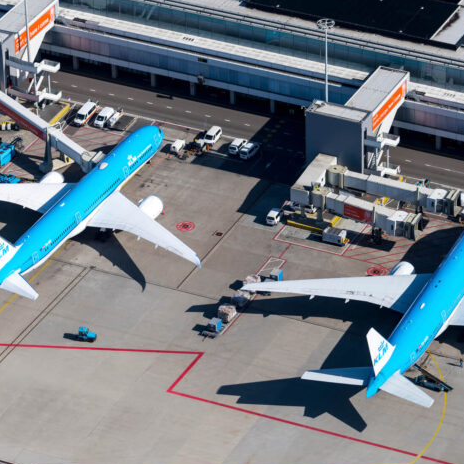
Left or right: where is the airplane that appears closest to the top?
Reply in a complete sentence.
You can find the airplane that appears closest to the top on the left side of the picture.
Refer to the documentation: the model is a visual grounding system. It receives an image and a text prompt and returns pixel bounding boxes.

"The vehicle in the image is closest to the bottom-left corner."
[76,327,98,346]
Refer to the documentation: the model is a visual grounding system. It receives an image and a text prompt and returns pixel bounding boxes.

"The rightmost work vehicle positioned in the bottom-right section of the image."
[413,366,456,394]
